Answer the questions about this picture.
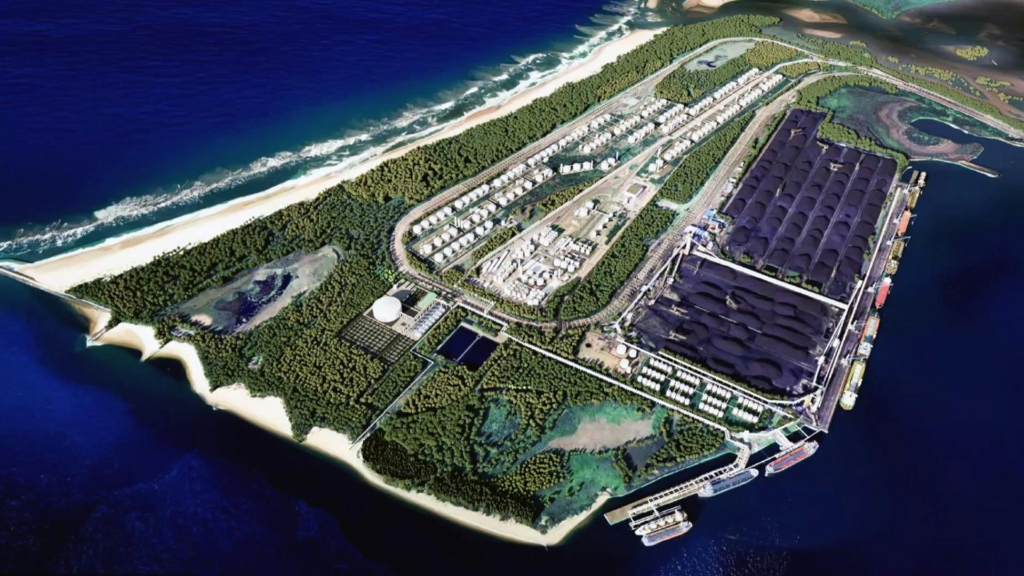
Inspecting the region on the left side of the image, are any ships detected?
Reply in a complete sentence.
No, on the left side of the image there is no ship.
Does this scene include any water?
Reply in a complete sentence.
Yes, water can be seen from above here.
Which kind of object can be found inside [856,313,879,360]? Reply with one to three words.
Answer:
ship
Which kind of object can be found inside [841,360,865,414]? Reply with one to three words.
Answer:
ship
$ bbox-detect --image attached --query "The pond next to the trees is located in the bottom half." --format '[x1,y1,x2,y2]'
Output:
[433,326,498,370]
